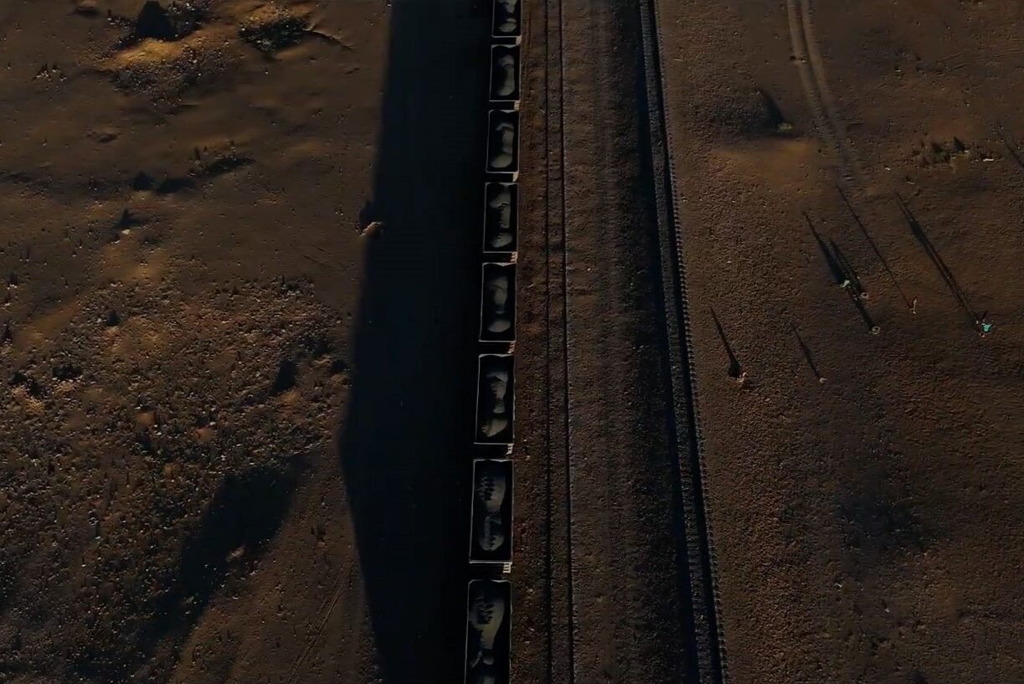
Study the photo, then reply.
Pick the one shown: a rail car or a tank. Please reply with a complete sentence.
This aerial view contains a rail car.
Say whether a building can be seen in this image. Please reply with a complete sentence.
No, the scene contains no building.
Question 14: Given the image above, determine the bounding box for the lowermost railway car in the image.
[464,577,511,684]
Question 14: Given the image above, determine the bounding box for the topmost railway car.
[493,0,523,55]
